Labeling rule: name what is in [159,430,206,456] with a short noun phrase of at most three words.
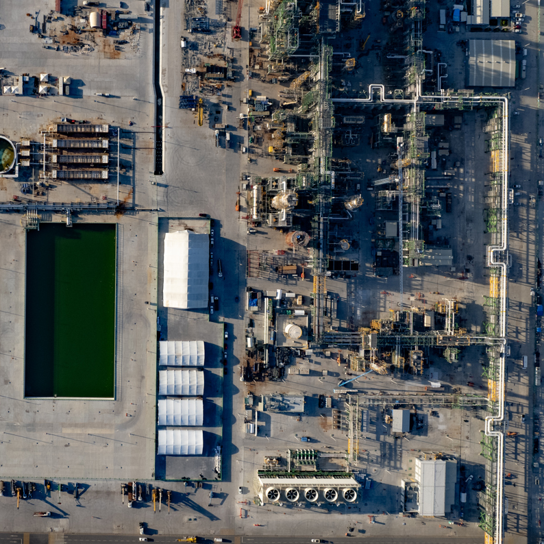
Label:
hangar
